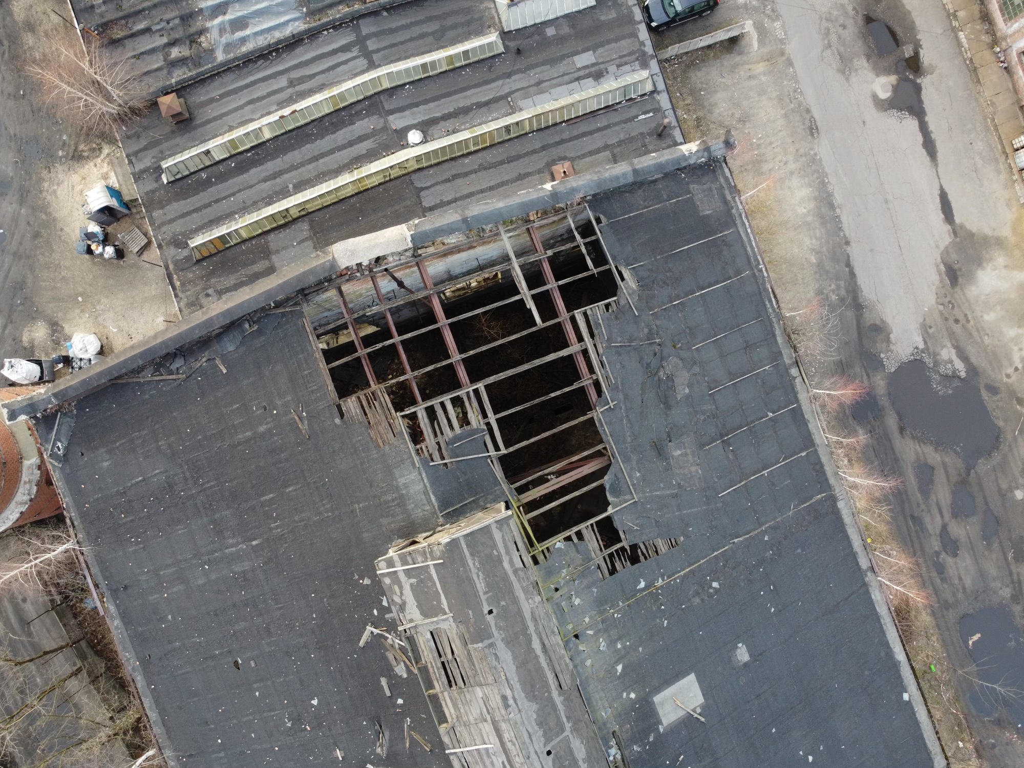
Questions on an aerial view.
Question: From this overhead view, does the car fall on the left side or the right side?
right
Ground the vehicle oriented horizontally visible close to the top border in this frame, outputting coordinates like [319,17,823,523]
[645,0,720,35]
